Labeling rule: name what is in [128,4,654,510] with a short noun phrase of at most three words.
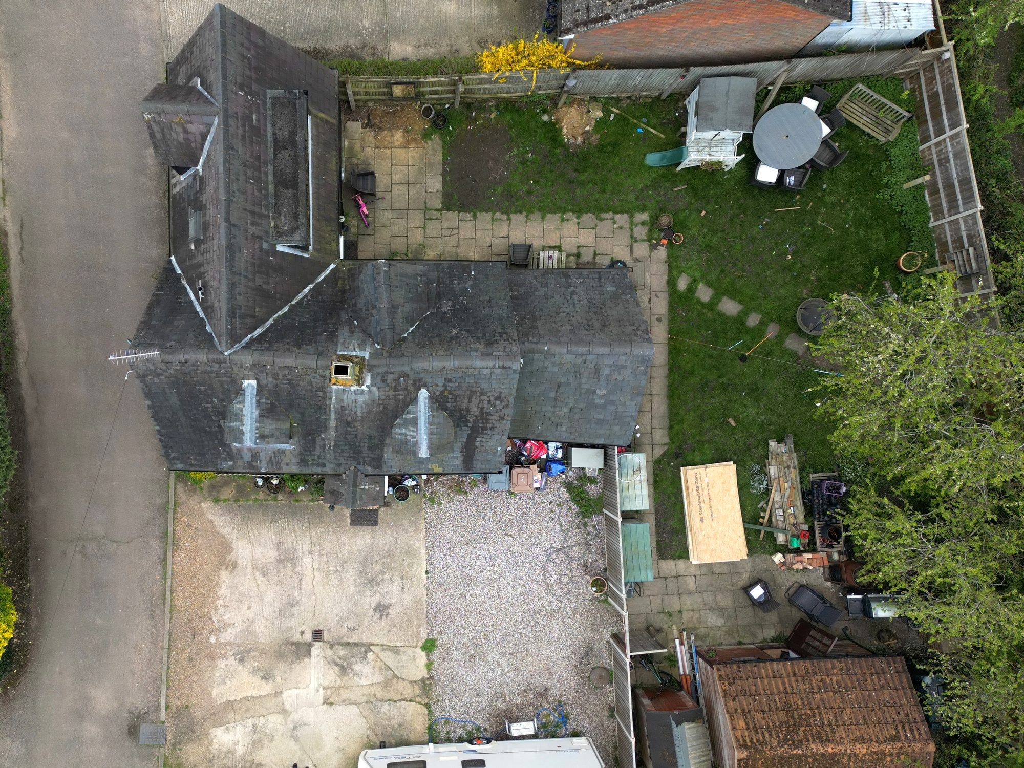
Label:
house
